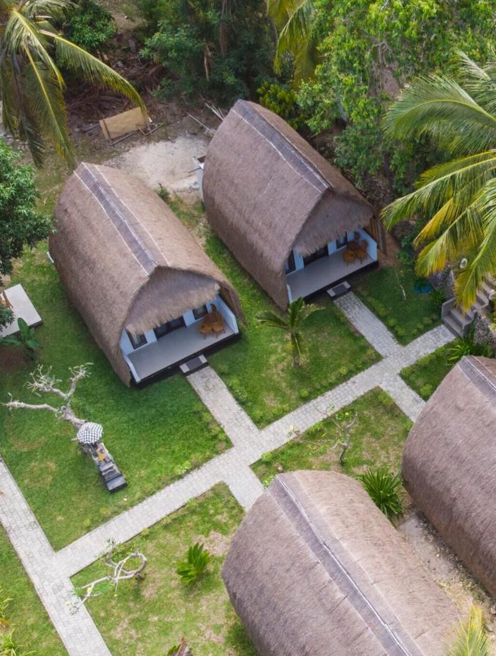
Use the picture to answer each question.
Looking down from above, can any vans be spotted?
No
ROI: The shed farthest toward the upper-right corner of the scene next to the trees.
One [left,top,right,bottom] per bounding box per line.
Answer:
[201,103,391,302]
